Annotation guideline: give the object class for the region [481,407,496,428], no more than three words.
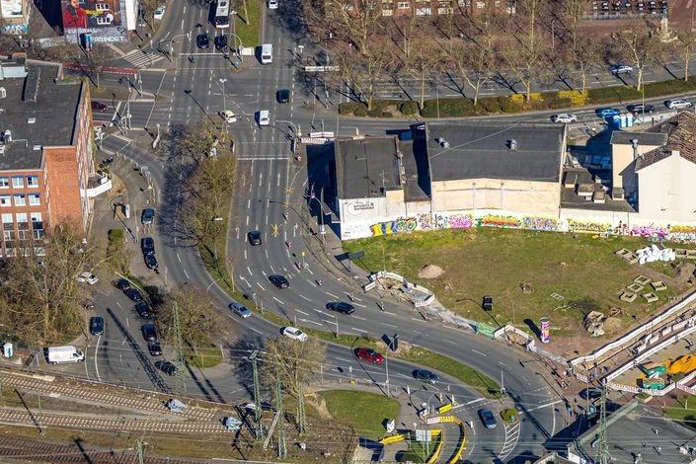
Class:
car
